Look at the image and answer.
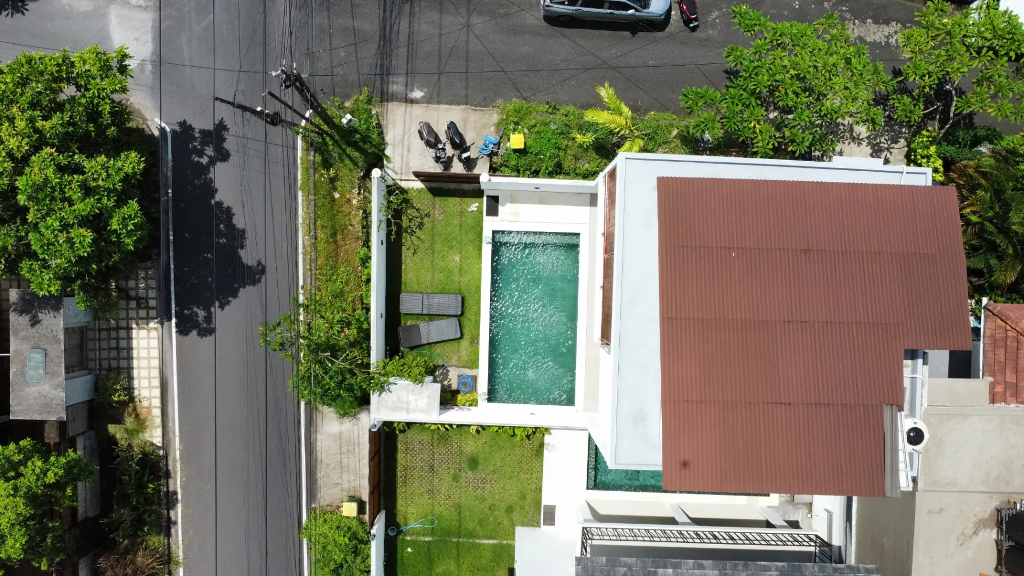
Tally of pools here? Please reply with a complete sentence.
The picture shows 2 pools.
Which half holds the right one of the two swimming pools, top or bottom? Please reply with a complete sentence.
The bottom half of the photo is where the right one of the two swimming pools is.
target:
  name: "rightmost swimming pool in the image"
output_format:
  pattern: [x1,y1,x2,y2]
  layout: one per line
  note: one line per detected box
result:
[587,437,662,491]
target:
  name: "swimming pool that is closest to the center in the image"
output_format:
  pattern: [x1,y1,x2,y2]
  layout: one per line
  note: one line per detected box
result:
[487,231,580,405]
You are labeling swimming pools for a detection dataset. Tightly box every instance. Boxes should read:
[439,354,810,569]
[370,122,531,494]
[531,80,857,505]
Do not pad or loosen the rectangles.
[587,437,662,491]
[487,231,580,405]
